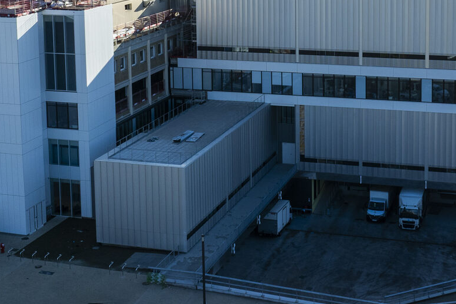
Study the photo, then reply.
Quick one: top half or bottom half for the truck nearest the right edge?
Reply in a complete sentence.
The truck nearest the right edge is in the bottom half of the image.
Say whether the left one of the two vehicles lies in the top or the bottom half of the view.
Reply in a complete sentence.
The left one of the two vehicles is in the bottom half of the image.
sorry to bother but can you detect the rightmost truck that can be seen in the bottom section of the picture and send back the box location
[395,187,427,228]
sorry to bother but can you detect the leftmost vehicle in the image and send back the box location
[367,185,394,219]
